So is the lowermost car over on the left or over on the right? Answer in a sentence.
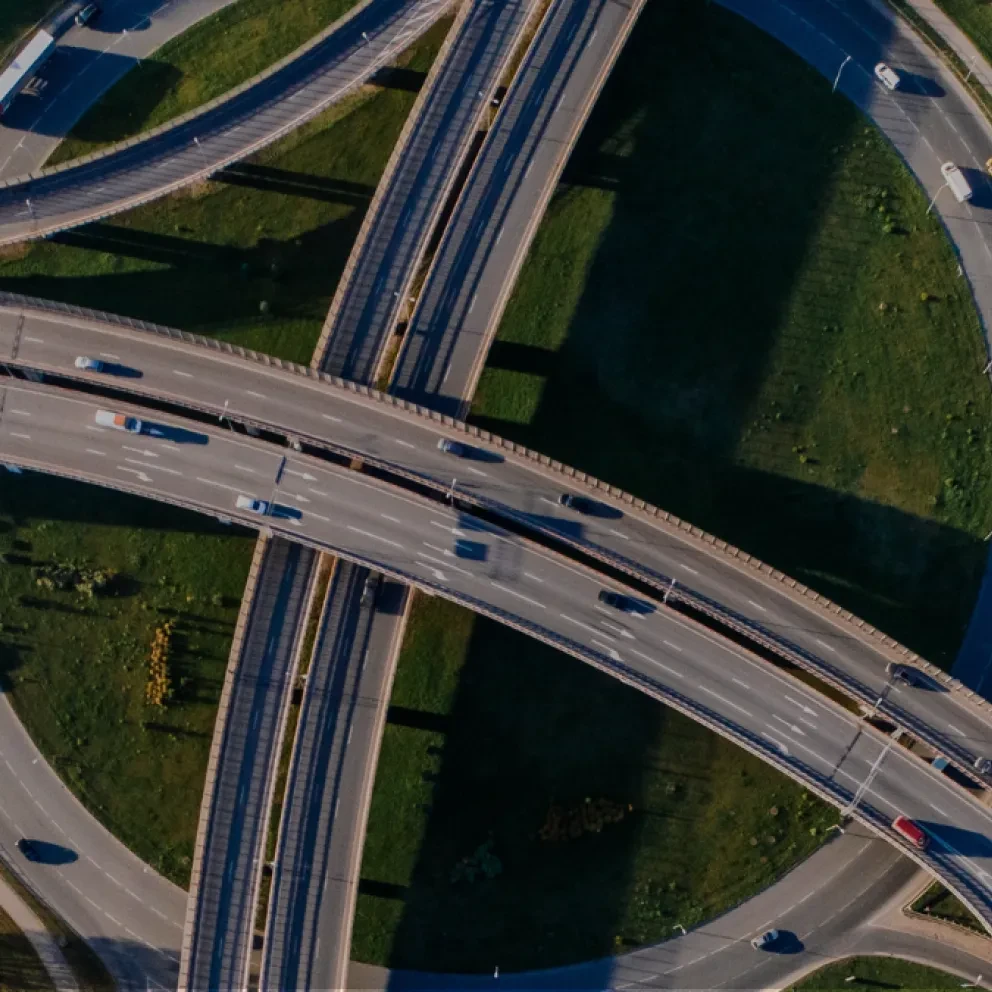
The lowermost car sits on the right side.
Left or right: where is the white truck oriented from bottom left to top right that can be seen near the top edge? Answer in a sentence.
It is on the left.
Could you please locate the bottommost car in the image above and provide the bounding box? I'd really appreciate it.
[750,927,781,950]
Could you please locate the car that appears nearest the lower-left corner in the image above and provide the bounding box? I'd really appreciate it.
[14,838,41,864]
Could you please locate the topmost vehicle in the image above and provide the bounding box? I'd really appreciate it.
[74,3,100,27]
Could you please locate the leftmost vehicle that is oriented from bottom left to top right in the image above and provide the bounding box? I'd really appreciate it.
[0,30,56,108]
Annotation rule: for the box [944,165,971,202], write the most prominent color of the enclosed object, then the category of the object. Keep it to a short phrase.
white vehicle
